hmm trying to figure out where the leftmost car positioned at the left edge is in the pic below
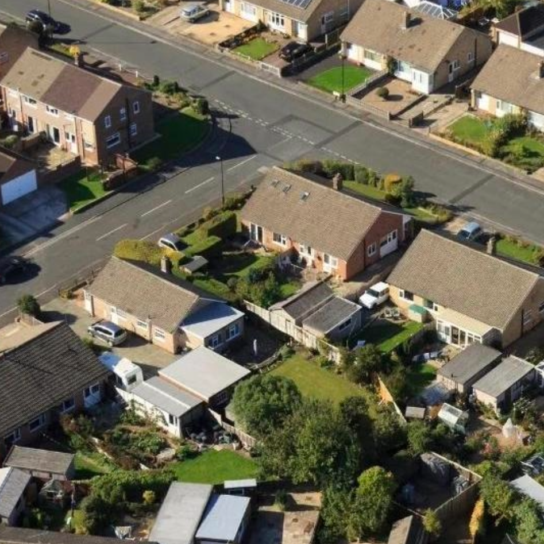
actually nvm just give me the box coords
[0,257,32,282]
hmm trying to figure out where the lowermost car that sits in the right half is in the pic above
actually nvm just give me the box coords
[358,275,390,308]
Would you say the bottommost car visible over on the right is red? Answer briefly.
No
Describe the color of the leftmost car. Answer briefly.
black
